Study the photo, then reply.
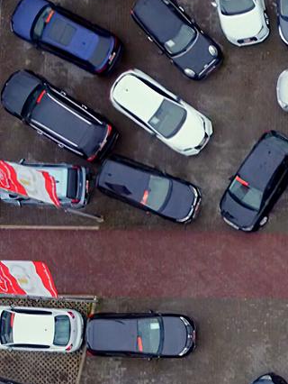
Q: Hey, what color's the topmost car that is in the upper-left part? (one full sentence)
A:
The color of the topmost car that is in the upper-left part is blue.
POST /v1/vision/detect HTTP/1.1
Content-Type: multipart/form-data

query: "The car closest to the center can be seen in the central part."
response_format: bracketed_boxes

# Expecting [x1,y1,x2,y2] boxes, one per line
[97,153,202,225]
